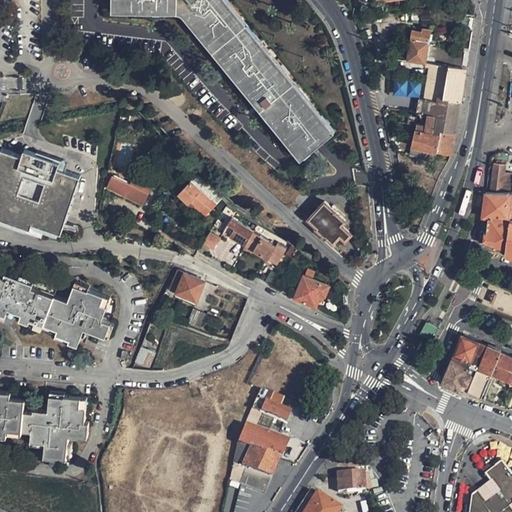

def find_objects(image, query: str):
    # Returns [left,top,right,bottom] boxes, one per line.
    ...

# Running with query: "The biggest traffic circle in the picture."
[370,273,413,345]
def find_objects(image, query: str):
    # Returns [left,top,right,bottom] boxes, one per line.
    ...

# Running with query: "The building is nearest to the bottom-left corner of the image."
[0,392,92,464]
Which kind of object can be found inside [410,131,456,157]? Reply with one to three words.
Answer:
house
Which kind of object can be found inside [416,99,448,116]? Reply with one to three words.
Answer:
building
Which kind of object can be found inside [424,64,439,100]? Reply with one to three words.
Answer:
shed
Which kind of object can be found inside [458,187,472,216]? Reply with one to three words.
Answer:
vehicle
